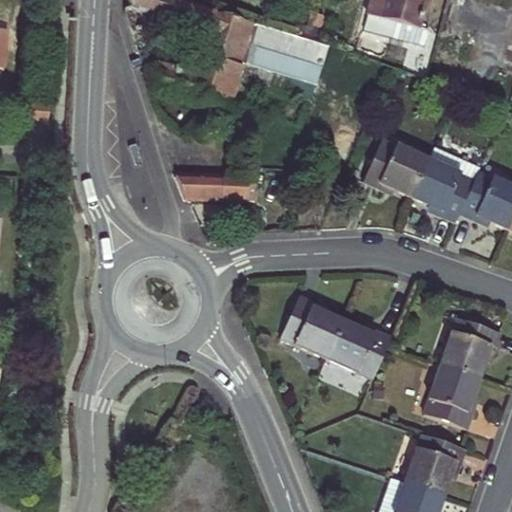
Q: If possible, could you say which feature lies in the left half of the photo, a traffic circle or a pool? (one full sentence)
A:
You can see a traffic circle in the left half of the photo.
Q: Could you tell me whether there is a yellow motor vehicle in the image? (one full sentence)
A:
No, there appears to be no yellow motor vehicle in this shot.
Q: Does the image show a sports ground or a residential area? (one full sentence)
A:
This looks like a residential area.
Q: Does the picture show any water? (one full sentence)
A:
No, water can't be seen anywhere here.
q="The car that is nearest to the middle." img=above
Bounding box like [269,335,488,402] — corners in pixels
[266,177,278,196]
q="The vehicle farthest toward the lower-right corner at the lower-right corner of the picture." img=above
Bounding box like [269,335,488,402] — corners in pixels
[483,464,496,485]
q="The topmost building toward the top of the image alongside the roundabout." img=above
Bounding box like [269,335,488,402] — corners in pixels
[176,176,255,208]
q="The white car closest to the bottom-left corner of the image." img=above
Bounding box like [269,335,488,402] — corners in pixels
[215,370,234,392]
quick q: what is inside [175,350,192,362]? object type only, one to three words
vehicle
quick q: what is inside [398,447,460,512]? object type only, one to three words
house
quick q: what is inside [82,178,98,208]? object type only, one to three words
vehicle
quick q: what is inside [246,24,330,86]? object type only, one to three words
shed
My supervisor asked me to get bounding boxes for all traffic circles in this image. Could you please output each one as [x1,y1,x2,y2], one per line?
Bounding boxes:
[91,238,220,366]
